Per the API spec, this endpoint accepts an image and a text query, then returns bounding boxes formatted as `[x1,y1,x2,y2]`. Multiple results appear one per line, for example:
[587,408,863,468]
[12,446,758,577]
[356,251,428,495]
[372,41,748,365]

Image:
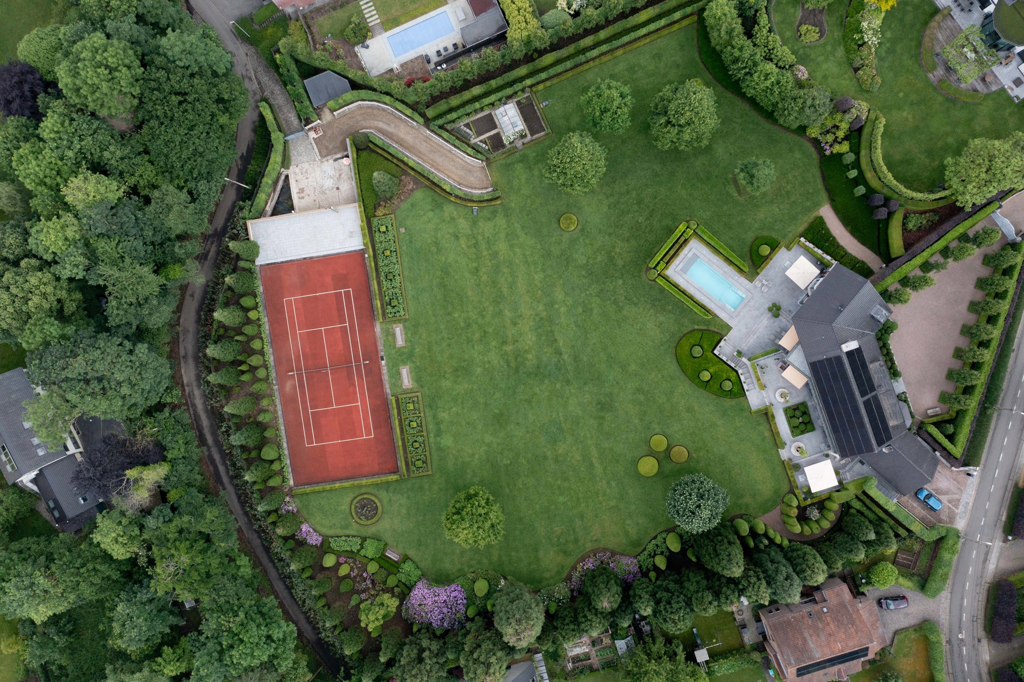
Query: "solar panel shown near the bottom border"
[797,648,869,673]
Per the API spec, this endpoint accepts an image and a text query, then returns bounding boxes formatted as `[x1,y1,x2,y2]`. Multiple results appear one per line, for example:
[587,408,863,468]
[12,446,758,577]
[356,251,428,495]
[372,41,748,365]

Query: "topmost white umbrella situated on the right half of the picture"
[783,255,820,290]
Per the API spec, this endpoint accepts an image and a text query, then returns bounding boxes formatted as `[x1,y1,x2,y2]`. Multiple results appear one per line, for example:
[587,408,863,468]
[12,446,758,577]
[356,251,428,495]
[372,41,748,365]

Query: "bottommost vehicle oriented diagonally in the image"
[915,488,946,513]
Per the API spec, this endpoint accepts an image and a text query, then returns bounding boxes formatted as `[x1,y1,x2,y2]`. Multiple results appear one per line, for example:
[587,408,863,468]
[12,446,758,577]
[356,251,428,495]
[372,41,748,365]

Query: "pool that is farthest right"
[672,245,755,321]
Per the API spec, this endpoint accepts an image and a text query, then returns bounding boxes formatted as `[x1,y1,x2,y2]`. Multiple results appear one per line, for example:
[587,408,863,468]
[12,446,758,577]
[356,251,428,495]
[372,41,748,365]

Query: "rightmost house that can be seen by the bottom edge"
[756,580,888,682]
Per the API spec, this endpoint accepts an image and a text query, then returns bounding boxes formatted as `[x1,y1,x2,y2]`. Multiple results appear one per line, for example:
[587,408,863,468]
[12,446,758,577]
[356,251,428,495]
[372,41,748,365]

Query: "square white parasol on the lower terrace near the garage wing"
[798,459,838,493]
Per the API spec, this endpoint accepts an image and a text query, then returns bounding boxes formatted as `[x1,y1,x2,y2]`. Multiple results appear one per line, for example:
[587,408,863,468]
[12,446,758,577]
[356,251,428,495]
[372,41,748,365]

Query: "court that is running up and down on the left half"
[257,249,402,489]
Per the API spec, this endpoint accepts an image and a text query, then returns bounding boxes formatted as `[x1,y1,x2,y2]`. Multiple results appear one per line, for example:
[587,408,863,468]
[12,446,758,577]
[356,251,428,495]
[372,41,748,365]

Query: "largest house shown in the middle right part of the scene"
[779,263,940,500]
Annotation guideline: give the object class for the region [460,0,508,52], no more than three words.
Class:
building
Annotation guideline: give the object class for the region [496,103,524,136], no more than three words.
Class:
greenhouse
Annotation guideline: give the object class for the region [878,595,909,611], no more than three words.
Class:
car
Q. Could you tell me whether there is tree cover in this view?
Yes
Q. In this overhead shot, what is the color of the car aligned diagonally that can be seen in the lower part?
blue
